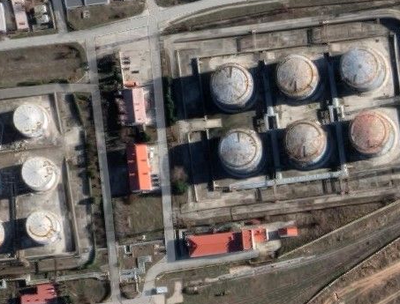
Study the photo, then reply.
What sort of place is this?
industrial area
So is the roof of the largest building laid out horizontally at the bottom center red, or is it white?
red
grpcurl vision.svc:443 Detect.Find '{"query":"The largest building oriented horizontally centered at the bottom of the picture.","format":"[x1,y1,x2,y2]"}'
[187,230,240,259]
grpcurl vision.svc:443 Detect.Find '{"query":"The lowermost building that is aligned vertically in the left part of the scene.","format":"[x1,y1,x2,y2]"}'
[126,143,153,193]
